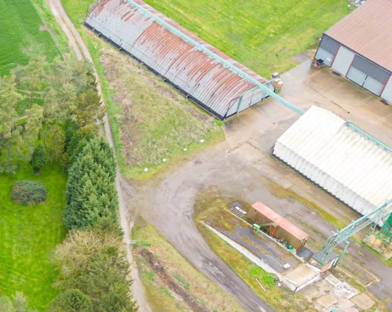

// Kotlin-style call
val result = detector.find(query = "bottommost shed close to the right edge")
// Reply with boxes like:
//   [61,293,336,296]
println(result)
[272,106,392,226]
